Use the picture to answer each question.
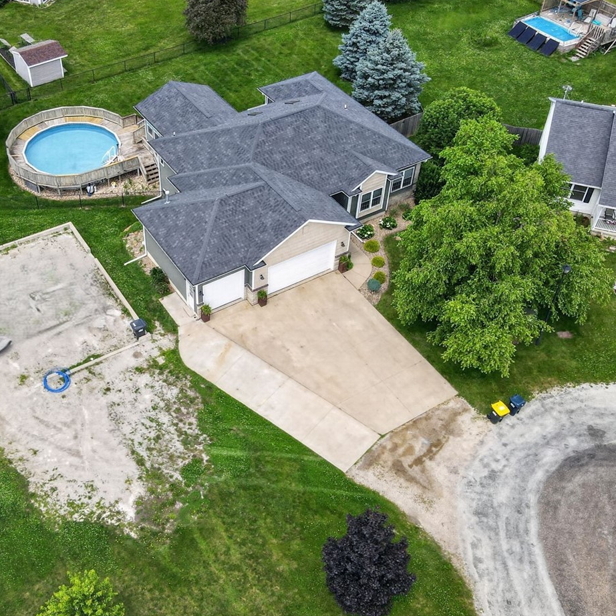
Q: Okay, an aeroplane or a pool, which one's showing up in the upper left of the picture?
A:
pool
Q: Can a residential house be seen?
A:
Yes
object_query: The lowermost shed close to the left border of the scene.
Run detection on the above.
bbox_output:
[11,41,73,87]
